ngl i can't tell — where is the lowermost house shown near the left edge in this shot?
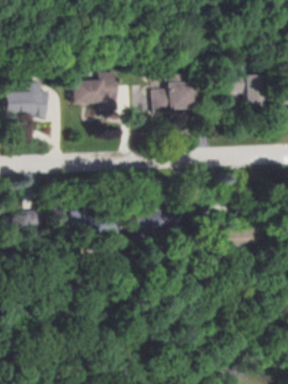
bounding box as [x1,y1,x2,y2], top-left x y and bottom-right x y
[12,211,40,227]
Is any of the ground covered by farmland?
No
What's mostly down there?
trees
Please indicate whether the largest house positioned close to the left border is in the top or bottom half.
top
